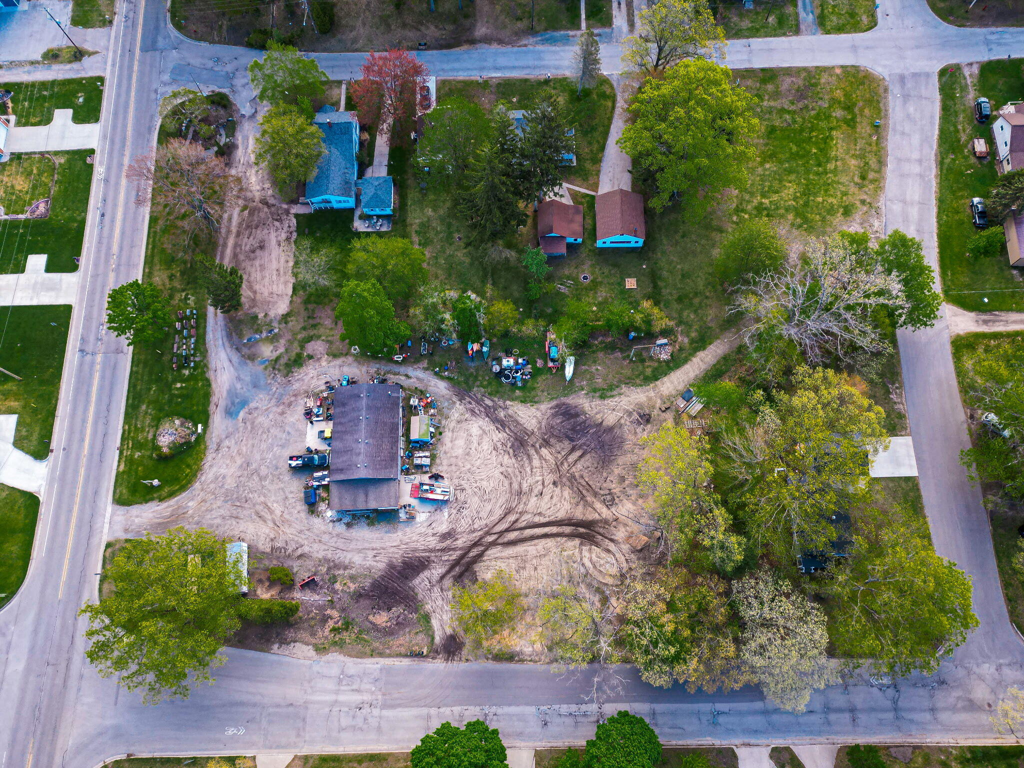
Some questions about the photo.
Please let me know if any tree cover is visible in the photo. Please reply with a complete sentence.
Yes, tree cover shows up in the scene.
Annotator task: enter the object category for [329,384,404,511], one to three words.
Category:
building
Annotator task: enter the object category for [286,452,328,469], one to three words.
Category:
vehicle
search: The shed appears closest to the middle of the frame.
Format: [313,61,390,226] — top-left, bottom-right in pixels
[410,415,432,442]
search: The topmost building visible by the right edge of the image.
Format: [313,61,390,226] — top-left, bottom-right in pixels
[989,104,1024,187]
